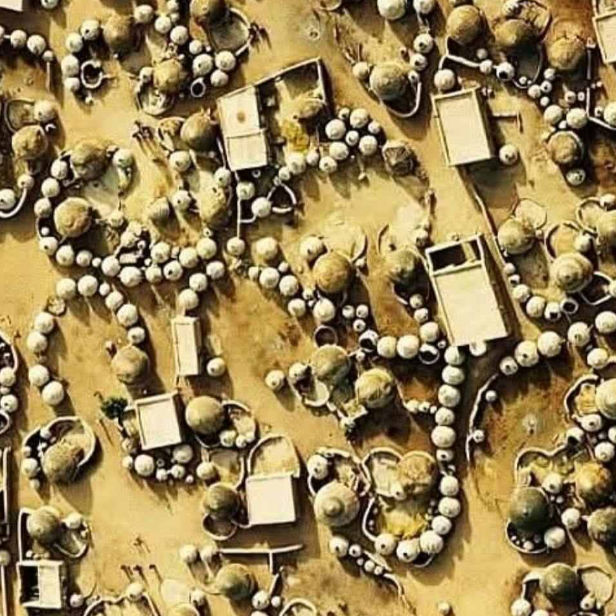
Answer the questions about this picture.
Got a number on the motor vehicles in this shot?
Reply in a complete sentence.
There are no motor vehicles in the image.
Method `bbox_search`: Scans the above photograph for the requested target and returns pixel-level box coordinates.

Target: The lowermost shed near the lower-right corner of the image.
[539,560,580,601]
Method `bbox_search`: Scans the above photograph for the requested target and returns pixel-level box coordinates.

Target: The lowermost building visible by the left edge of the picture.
[19,557,68,608]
